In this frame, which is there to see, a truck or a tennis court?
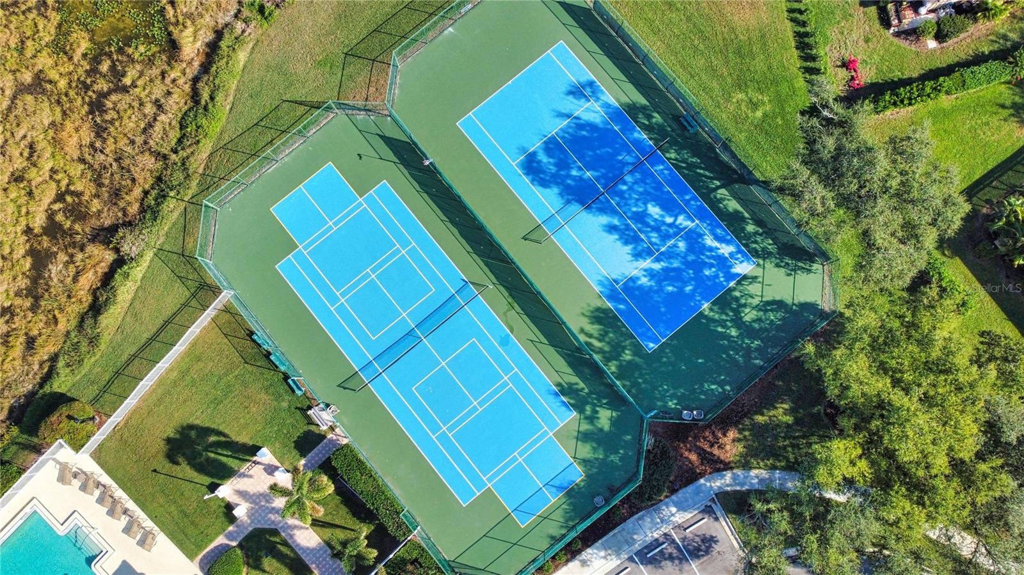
tennis court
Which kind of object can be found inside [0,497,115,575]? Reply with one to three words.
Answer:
swimming pool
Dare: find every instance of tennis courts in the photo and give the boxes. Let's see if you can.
[390,0,823,420]
[212,113,641,575]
